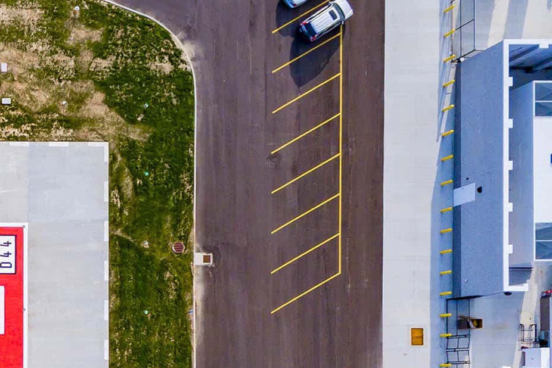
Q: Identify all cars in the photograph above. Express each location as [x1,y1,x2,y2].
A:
[283,0,307,8]
[294,0,356,43]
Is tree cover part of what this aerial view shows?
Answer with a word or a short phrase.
No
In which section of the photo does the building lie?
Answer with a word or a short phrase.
right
